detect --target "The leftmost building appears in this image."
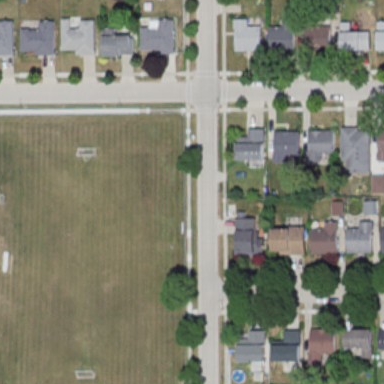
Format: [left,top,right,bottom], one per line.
[0,22,15,56]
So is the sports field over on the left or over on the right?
left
